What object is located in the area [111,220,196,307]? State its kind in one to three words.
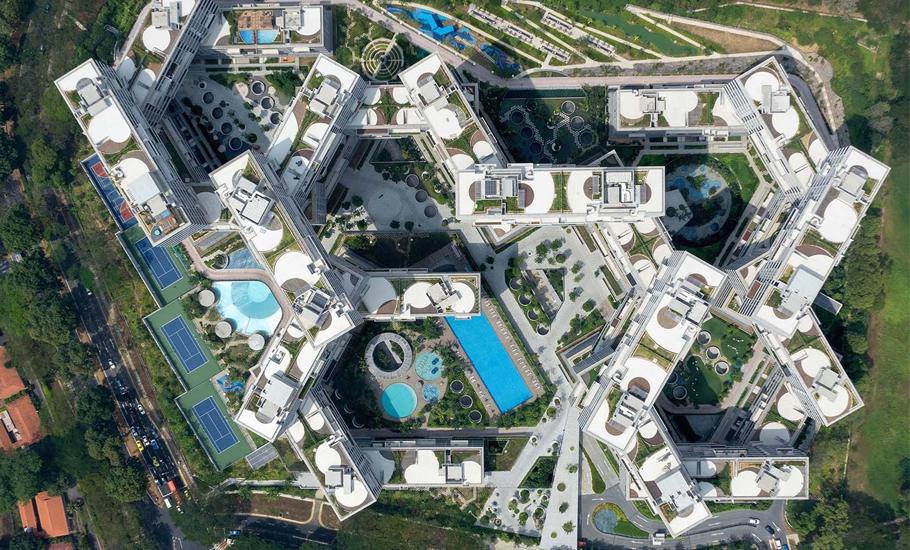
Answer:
tennis court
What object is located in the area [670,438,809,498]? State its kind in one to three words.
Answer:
building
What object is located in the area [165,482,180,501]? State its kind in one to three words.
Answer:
vehicle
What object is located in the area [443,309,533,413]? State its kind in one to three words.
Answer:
swimming pool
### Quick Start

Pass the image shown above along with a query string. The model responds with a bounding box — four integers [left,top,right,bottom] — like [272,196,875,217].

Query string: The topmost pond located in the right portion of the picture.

[582,12,699,57]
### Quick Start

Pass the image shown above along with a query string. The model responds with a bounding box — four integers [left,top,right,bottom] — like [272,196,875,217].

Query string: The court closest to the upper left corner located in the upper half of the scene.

[76,151,135,232]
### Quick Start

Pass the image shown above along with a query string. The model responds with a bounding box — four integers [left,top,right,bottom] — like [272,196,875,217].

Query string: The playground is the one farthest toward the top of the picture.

[387,6,518,73]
